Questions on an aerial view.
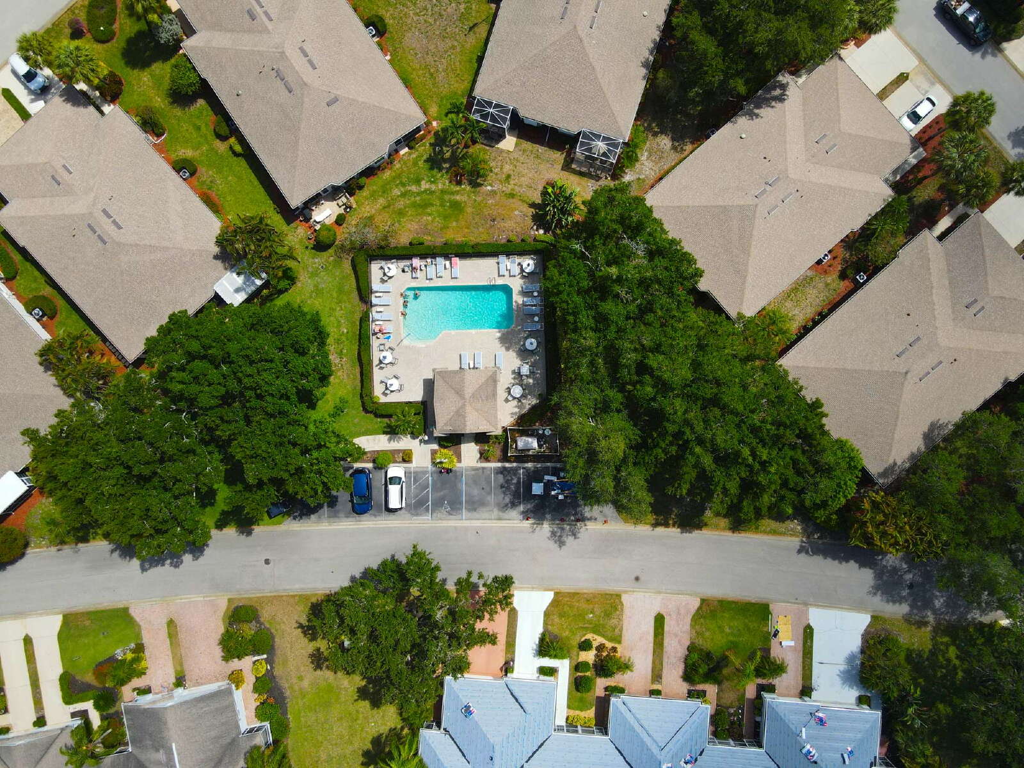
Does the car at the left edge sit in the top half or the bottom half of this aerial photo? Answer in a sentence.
It is in the top half that the car at the left edge appears.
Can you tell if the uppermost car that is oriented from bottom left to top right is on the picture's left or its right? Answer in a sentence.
The uppermost car that is oriented from bottom left to top right sits on the right side.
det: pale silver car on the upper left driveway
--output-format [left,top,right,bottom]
[6,51,51,98]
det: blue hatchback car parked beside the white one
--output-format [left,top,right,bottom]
[349,467,372,514]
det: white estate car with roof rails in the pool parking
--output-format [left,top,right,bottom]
[383,464,406,512]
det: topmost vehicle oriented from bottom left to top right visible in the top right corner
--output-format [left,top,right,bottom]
[898,91,943,134]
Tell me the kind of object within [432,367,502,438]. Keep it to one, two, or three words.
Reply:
building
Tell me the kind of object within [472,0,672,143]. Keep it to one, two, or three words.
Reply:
house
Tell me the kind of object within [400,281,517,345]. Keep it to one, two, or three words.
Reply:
swimming pool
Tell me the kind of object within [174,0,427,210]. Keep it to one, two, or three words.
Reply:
house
